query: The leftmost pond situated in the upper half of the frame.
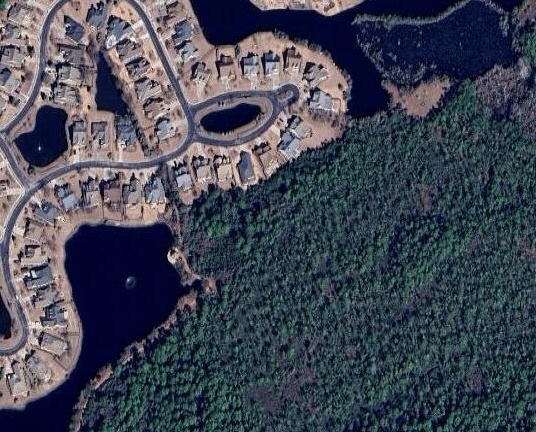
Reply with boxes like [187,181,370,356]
[17,106,66,165]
